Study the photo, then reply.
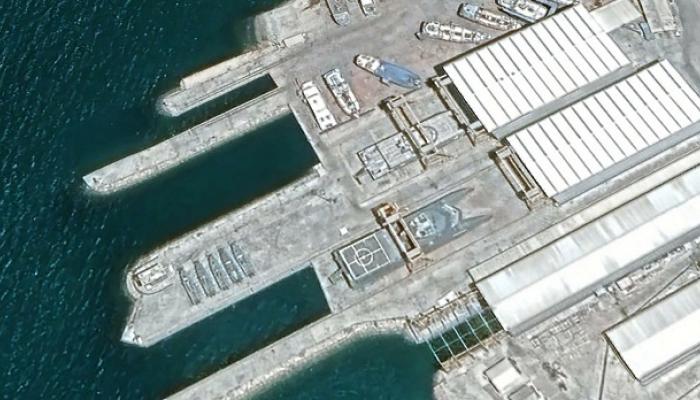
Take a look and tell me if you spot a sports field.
No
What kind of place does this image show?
port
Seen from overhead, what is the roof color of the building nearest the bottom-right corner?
white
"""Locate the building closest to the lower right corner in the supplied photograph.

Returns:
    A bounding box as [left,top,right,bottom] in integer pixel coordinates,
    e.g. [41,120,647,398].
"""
[606,284,700,383]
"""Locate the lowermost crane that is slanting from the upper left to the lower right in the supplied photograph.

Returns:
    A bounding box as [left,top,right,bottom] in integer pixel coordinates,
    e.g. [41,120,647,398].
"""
[375,201,426,267]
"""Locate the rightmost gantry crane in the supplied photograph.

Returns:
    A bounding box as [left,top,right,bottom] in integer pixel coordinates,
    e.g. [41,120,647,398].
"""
[496,144,548,204]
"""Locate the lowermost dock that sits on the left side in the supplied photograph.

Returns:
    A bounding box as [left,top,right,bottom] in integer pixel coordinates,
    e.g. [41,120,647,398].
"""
[165,313,336,400]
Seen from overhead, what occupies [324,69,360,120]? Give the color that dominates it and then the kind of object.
white ship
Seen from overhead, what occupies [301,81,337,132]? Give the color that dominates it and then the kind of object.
white ship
